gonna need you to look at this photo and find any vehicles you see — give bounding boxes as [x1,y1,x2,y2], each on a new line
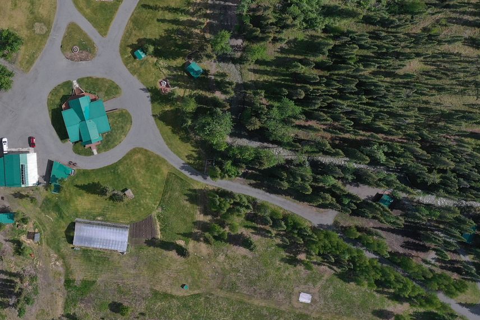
[2,137,8,154]
[30,136,36,148]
